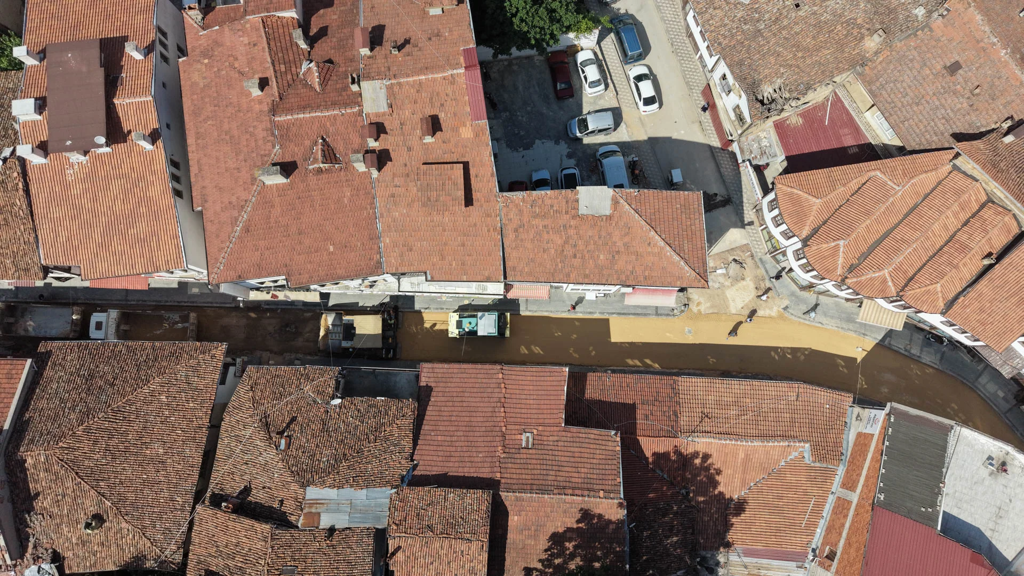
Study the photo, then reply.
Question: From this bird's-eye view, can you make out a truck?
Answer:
Yes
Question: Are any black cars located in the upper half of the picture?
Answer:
Yes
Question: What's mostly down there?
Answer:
buildings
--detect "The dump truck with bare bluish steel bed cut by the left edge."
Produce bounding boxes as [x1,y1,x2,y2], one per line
[0,302,91,336]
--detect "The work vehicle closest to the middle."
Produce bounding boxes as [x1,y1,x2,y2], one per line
[447,311,511,337]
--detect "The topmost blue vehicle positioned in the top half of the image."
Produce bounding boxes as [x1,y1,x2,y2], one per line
[614,15,644,64]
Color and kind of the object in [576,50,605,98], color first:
white car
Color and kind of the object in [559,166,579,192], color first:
black car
